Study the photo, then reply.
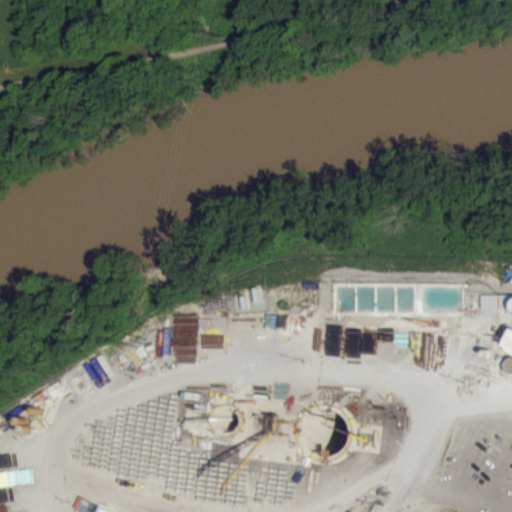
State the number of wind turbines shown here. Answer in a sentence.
There are no wind turbines in this view.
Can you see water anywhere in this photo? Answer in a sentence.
Yes, the picture does contain water.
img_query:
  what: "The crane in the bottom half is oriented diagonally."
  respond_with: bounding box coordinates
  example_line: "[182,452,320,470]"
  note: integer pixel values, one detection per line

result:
[218,412,293,500]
